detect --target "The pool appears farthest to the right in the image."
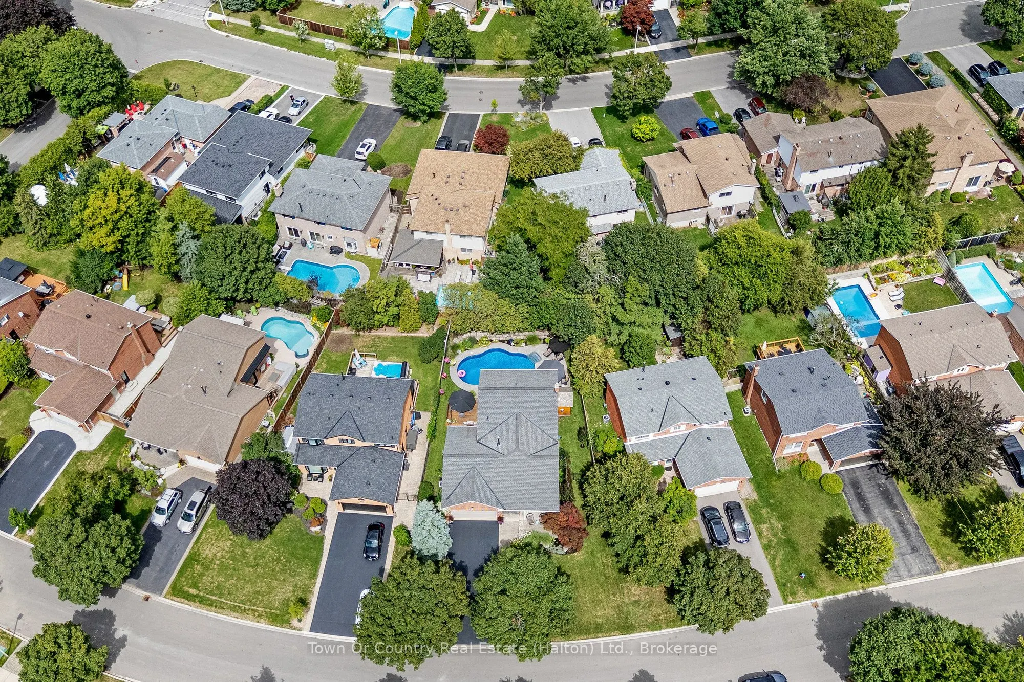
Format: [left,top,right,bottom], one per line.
[954,259,1018,314]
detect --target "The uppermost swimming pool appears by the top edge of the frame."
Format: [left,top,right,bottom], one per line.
[379,4,417,39]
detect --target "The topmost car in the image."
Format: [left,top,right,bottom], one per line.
[649,14,662,38]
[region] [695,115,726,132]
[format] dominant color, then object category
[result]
blue vehicle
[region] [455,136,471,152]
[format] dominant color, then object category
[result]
gray vehicle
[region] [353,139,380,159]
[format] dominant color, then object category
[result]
white car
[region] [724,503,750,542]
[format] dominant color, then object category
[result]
gray car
